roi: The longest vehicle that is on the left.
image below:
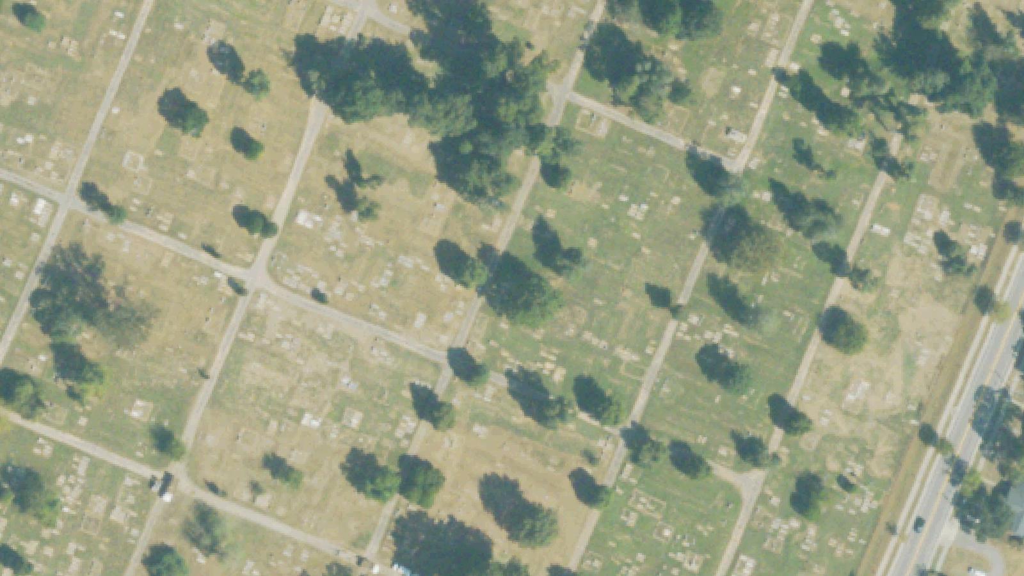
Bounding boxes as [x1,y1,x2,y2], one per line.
[159,472,174,494]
